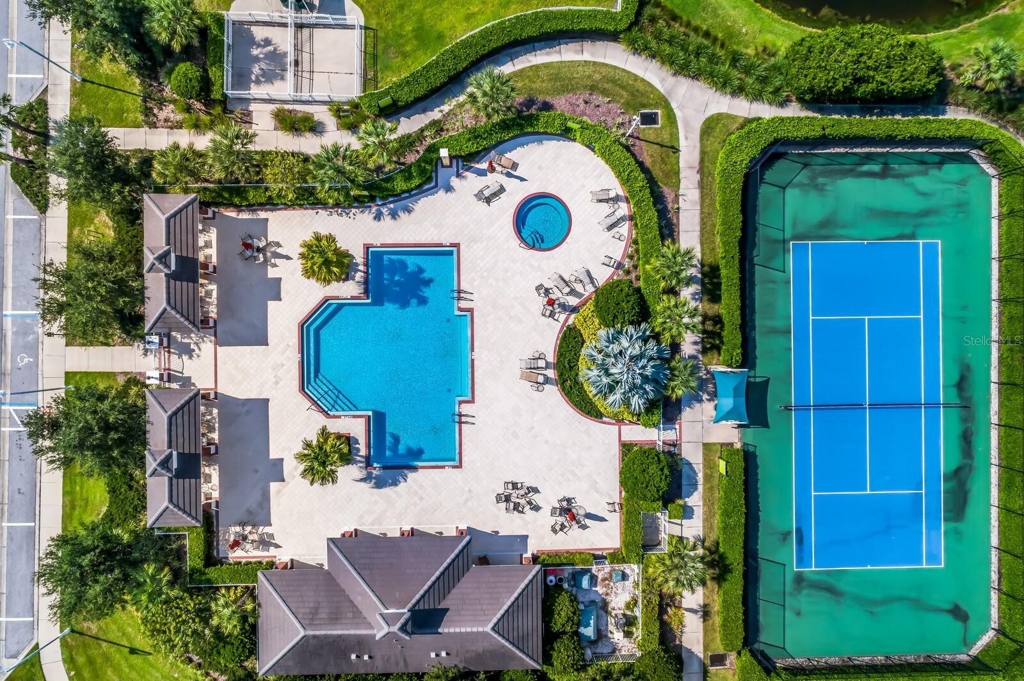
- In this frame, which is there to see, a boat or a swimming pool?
swimming pool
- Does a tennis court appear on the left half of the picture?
No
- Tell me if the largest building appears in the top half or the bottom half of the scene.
bottom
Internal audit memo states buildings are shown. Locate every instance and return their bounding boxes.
[144,388,219,529]
[141,193,217,333]
[257,527,543,677]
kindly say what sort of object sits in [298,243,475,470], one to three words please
swimming pool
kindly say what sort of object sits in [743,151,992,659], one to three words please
tennis court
